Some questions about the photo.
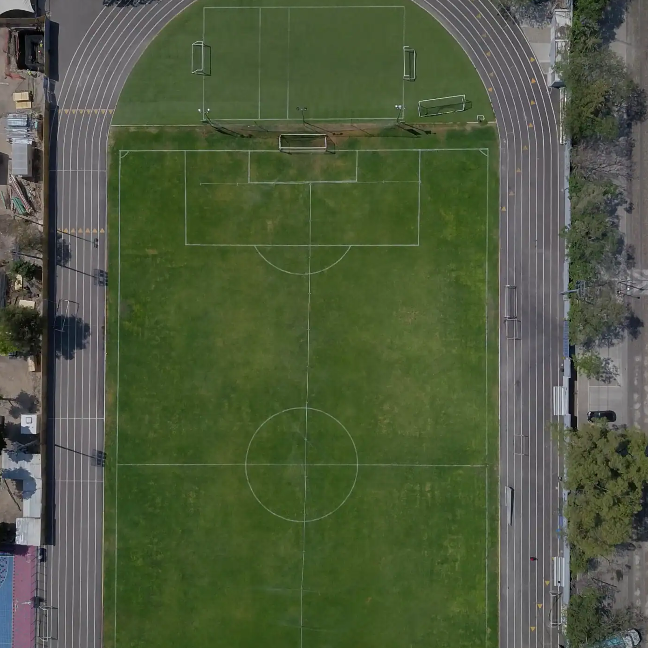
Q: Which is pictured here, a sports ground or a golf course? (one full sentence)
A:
What you see here is a sports ground.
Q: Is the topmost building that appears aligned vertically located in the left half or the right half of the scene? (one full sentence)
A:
You can find the topmost building that appears aligned vertically on the right side of the picture.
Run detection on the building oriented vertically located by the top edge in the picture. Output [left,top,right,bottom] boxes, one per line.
[549,9,571,84]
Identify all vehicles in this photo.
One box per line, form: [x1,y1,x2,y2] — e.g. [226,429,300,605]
[584,625,639,648]
[587,410,617,424]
